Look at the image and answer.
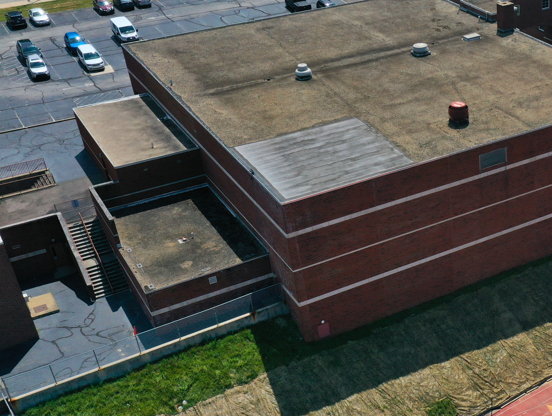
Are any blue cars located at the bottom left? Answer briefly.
No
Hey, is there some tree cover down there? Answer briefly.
No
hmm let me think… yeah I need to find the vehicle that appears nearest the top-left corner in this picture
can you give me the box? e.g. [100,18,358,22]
[3,11,27,29]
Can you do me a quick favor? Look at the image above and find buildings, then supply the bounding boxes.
[0,235,40,352]
[121,0,552,342]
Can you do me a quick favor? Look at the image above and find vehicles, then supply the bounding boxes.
[91,0,114,15]
[27,10,49,26]
[108,16,137,43]
[3,11,27,29]
[131,0,151,8]
[113,0,134,11]
[66,32,89,54]
[76,45,105,71]
[23,55,50,80]
[18,40,45,60]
